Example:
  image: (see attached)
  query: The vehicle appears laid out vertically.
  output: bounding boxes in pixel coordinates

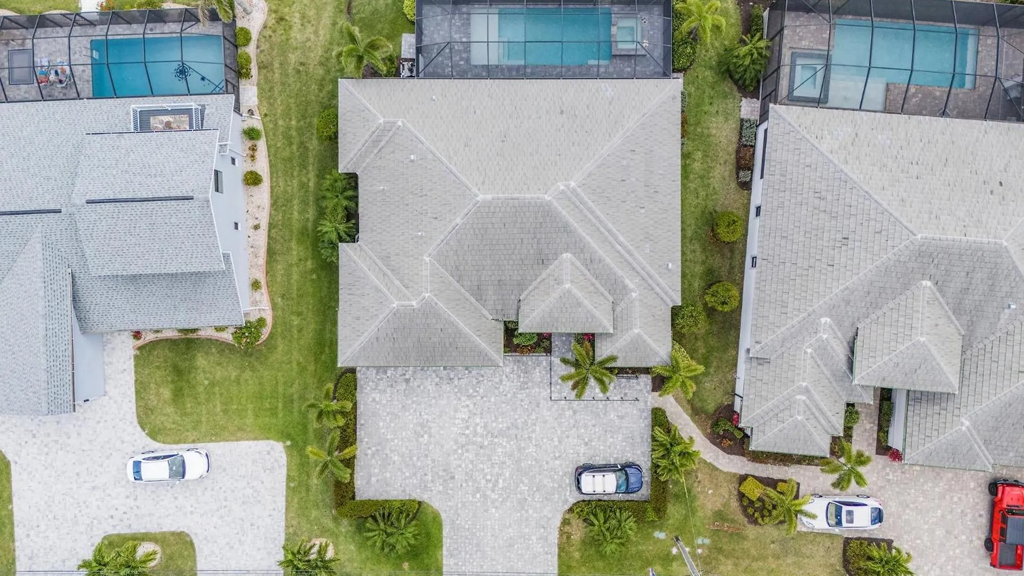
[982,475,1024,569]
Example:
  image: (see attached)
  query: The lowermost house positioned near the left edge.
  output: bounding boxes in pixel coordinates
[0,94,270,416]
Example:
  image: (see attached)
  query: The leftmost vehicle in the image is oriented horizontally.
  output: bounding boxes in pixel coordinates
[128,446,213,486]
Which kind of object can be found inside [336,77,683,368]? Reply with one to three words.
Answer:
house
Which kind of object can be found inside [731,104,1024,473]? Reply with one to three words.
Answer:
house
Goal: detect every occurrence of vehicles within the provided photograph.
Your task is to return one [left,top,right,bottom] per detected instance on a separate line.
[982,475,1024,569]
[128,446,213,486]
[796,491,881,533]
[575,459,644,500]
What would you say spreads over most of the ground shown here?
buildings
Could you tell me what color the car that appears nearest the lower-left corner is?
white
